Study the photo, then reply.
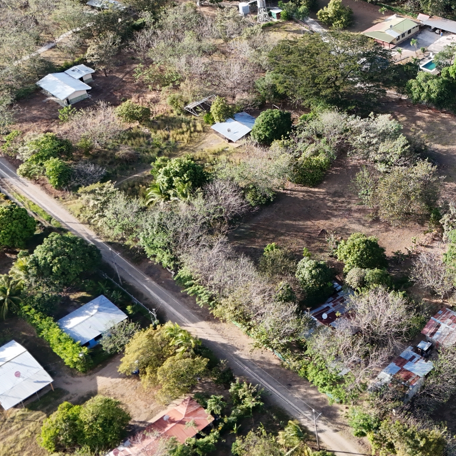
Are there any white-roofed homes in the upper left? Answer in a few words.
Yes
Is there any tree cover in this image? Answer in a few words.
Yes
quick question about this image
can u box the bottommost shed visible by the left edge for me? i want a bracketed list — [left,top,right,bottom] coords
[0,337,56,419]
